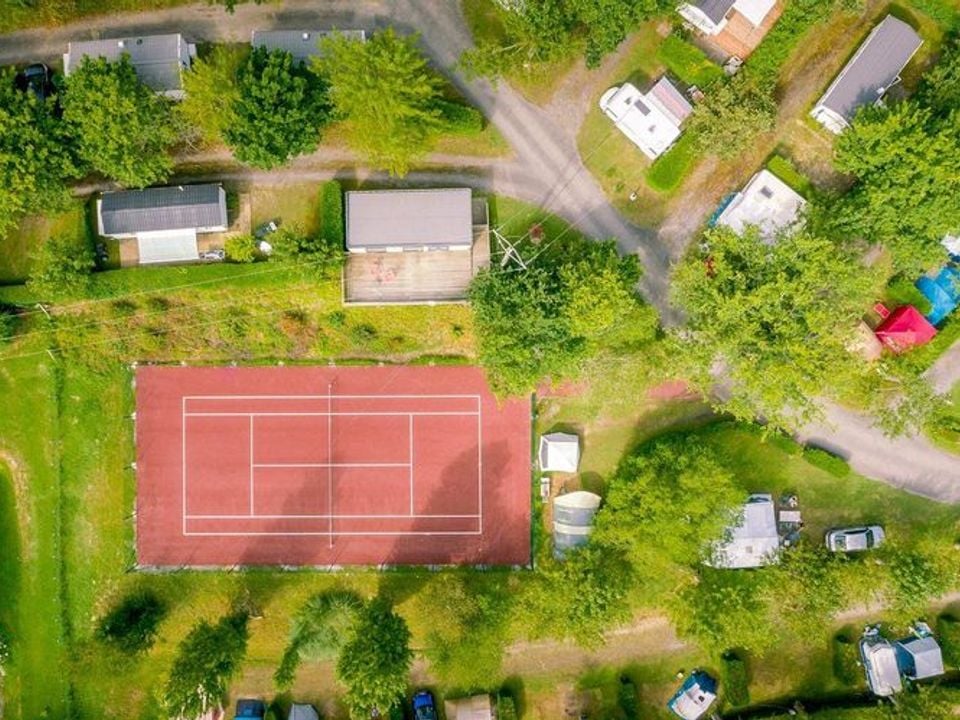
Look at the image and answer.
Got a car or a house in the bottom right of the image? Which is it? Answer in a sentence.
There is a car in the bottom right of the image.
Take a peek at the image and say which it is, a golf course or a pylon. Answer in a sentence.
Looking from above, you can make out a pylon.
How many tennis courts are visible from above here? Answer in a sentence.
The picture shows just 1 tennis court.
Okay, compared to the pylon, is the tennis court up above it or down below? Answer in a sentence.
Looking at the scene, the tennis court is located below the pylon.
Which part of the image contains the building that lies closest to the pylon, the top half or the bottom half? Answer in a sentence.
Seen from above, the building that lies closest to the pylon lies in the top half of the view.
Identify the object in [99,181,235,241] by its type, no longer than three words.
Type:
house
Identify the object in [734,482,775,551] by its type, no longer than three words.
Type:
van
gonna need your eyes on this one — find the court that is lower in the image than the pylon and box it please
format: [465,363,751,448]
[135,366,532,569]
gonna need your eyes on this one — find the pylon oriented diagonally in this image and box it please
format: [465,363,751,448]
[492,228,528,269]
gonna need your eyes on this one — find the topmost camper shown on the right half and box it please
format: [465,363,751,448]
[595,88,678,165]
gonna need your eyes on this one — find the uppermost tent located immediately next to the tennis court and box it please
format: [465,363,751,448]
[539,432,580,473]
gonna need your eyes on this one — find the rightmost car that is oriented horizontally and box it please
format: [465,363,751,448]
[823,523,883,551]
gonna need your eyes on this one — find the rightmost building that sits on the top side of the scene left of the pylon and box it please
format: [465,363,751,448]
[345,187,473,252]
